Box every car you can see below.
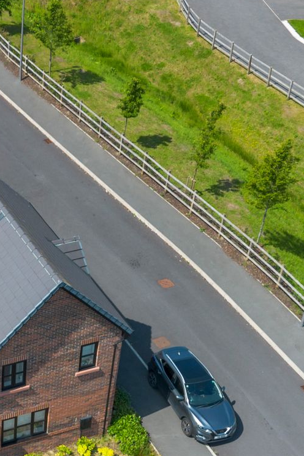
[146,342,245,444]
